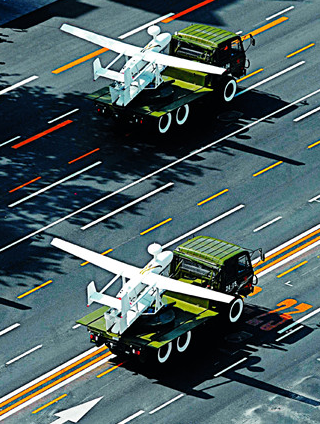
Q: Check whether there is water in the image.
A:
No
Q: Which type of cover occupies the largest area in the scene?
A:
paved ground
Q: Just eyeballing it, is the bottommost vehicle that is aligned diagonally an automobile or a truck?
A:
truck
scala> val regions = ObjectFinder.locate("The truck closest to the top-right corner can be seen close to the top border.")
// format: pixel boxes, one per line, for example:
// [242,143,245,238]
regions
[87,20,254,133]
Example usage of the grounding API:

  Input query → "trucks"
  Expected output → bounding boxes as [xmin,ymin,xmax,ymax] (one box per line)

[87,20,254,133]
[77,231,264,363]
